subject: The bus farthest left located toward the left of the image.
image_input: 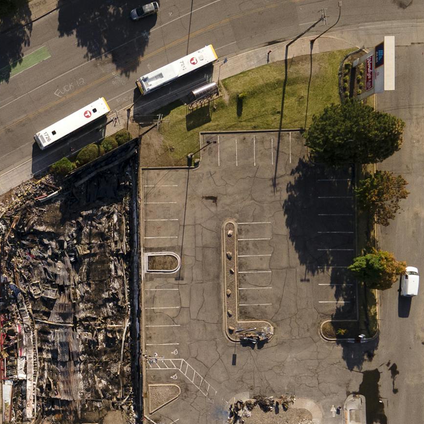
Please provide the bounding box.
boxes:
[33,93,115,152]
